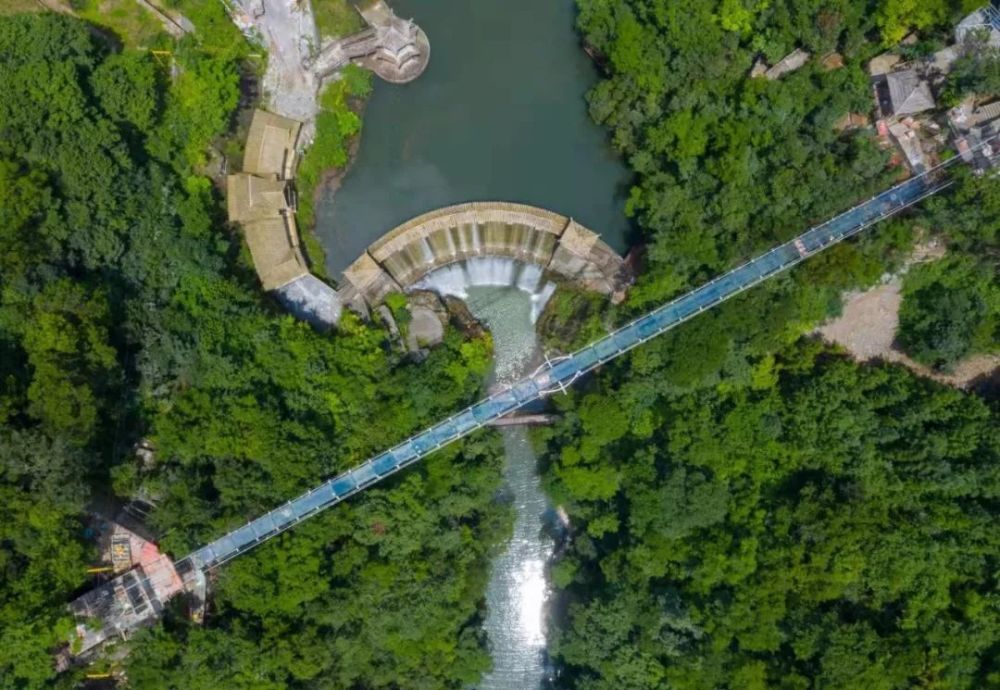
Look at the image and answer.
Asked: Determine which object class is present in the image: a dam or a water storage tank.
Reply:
dam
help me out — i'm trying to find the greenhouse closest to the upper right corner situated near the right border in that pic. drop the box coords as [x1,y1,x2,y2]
[942,3,1000,57]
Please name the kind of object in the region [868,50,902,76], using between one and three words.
shed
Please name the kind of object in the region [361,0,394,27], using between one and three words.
pier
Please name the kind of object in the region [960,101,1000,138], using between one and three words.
shed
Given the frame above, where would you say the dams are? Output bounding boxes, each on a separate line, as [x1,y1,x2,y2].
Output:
[378,222,561,287]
